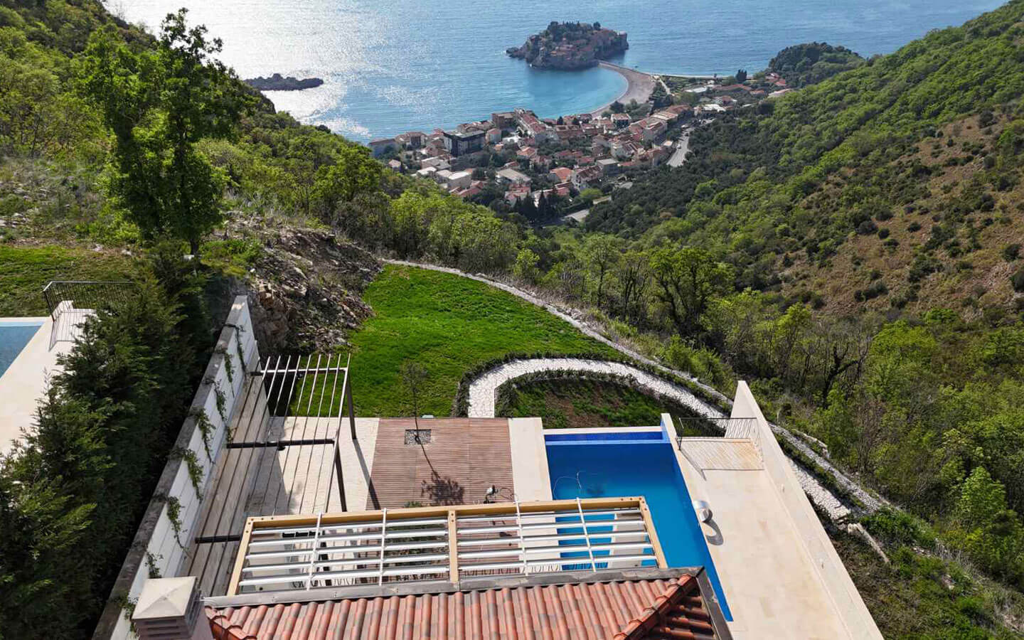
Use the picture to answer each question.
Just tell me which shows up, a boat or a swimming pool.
swimming pool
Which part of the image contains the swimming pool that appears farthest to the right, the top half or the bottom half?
bottom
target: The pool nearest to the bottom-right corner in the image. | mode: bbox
[544,415,730,619]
